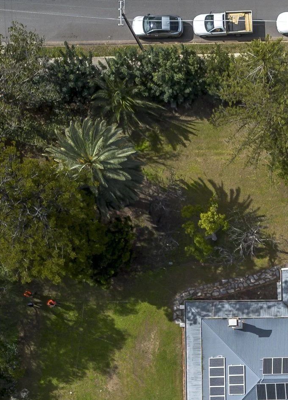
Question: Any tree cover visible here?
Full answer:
Yes, some tree cover is visible.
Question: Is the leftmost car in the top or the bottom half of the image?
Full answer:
It is in the top half that the leftmost car appears.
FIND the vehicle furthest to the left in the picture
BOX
[133,12,184,41]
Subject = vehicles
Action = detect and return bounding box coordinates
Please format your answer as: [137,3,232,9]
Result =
[193,10,253,38]
[133,12,184,41]
[276,12,288,36]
